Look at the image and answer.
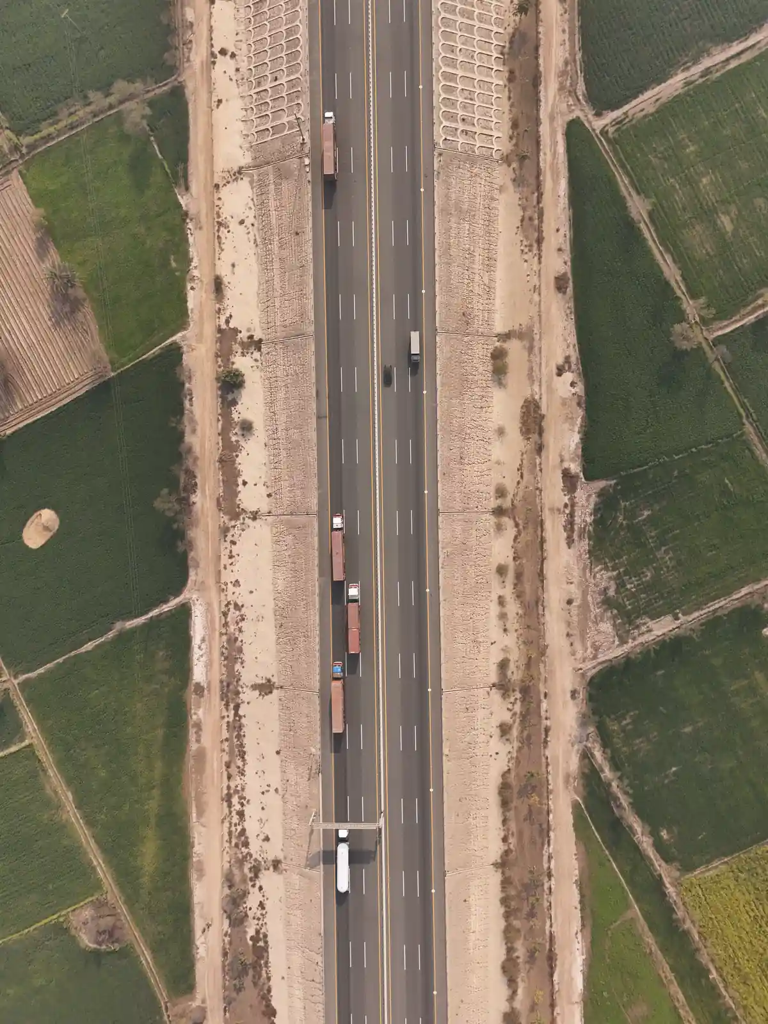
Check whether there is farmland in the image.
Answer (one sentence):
Yes, there's farmland in this view.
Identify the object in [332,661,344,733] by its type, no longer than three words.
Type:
vehicle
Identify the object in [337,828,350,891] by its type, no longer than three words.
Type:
vehicle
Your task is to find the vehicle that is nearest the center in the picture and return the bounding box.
[331,513,345,580]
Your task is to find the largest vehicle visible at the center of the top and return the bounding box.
[323,113,335,181]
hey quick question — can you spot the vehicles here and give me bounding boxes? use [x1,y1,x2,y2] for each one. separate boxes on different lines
[347,584,360,653]
[323,113,335,181]
[332,661,344,733]
[384,365,392,385]
[337,828,350,891]
[410,332,420,364]
[331,513,345,580]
